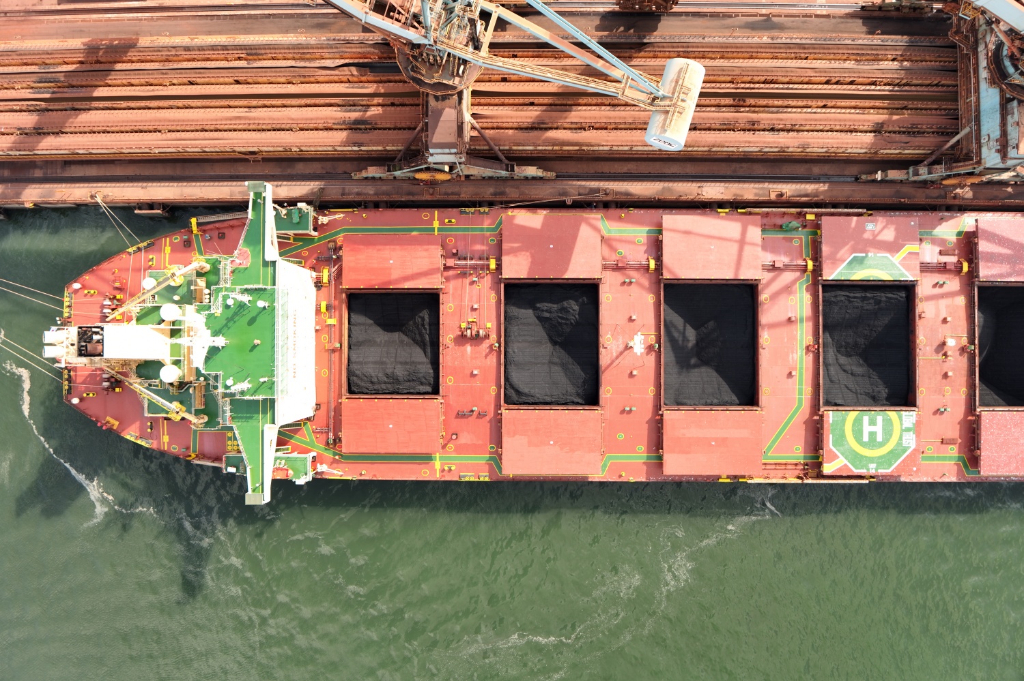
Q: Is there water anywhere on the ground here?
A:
Yes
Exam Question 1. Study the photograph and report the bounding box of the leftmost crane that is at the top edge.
[317,0,711,188]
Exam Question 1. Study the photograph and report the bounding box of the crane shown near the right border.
[855,0,1024,188]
